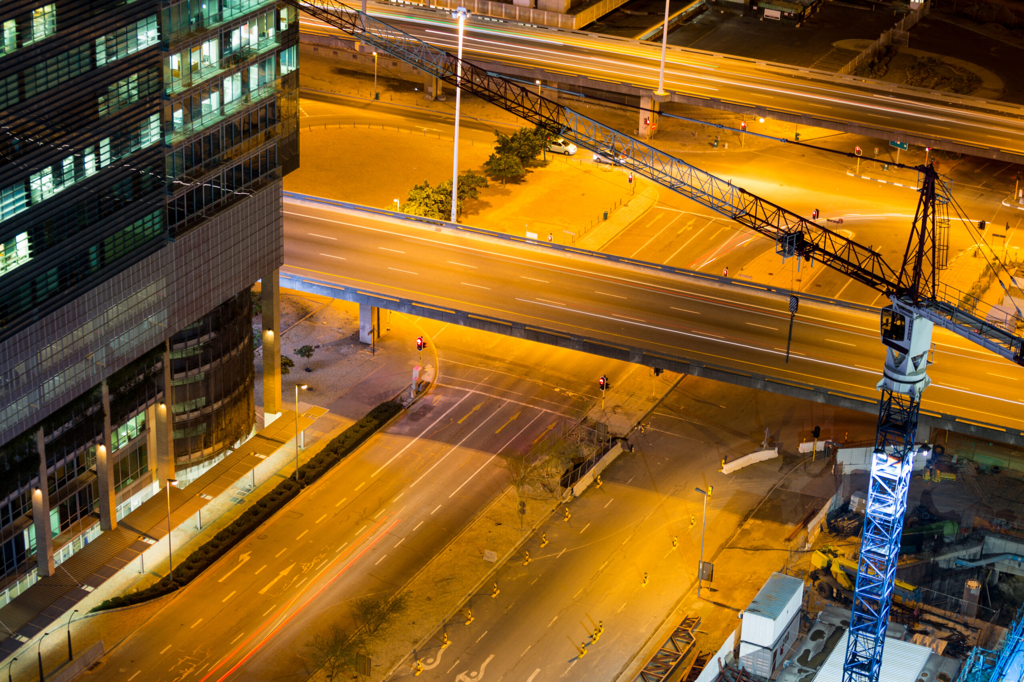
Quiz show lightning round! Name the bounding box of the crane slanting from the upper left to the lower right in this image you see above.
[293,0,1024,682]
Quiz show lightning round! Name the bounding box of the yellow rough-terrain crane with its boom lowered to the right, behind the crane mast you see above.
[794,544,941,614]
